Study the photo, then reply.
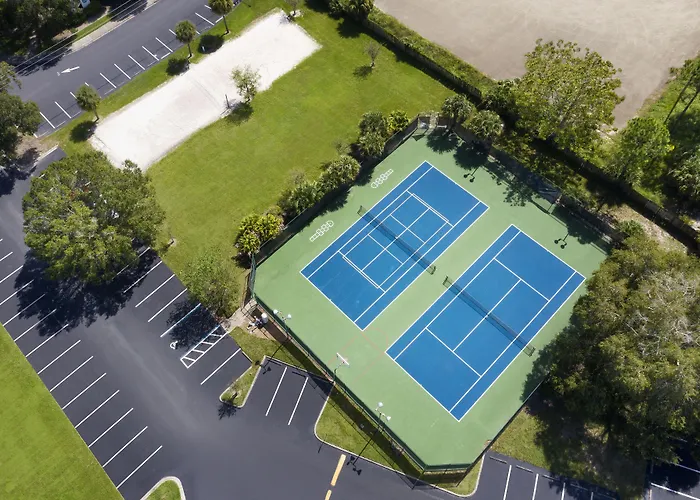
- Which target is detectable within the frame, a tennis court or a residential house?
tennis court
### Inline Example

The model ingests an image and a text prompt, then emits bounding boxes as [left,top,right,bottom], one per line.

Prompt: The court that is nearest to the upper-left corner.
[90,10,321,170]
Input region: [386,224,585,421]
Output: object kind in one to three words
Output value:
tennis court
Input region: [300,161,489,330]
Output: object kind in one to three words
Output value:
tennis court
